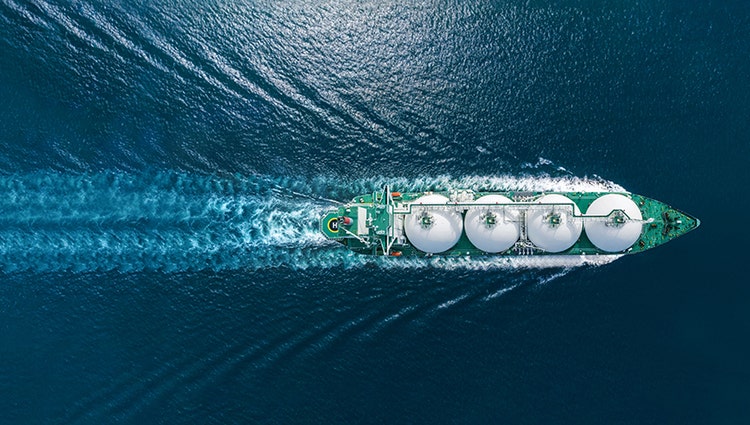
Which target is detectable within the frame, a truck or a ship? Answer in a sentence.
The image shows a ship.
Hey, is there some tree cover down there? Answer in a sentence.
No, there is no tree cover in the image.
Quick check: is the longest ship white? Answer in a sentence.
Yes, the longest ship is indeed white.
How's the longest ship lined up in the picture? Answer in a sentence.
What the image shows is the longest ship lying horizontally.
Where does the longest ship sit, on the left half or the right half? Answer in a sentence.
You can find the longest ship on the right side of the picture.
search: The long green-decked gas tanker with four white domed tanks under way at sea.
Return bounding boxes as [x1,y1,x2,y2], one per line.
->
[319,184,699,259]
